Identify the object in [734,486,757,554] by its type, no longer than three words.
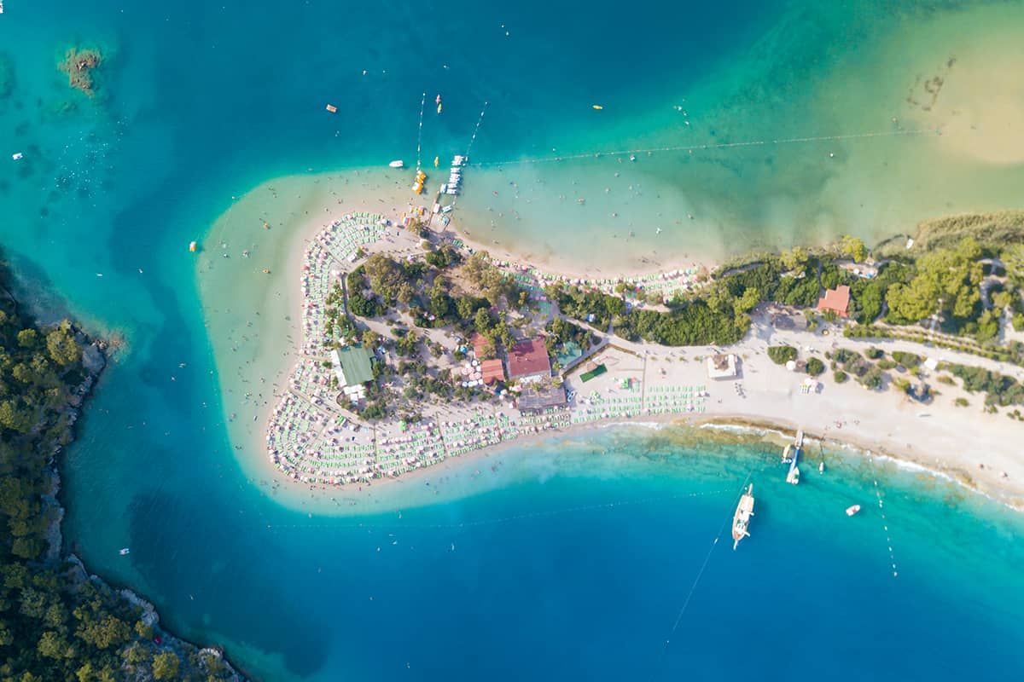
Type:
boat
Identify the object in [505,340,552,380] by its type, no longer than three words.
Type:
building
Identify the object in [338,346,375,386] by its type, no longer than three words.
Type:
building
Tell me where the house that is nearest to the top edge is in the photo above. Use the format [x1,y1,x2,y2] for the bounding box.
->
[815,284,848,316]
